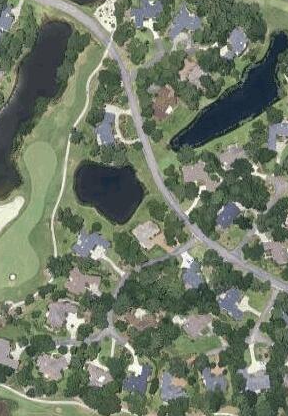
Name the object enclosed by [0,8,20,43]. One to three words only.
house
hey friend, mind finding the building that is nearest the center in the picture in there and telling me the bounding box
[131,221,161,250]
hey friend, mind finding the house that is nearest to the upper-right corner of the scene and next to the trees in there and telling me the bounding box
[222,21,253,62]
